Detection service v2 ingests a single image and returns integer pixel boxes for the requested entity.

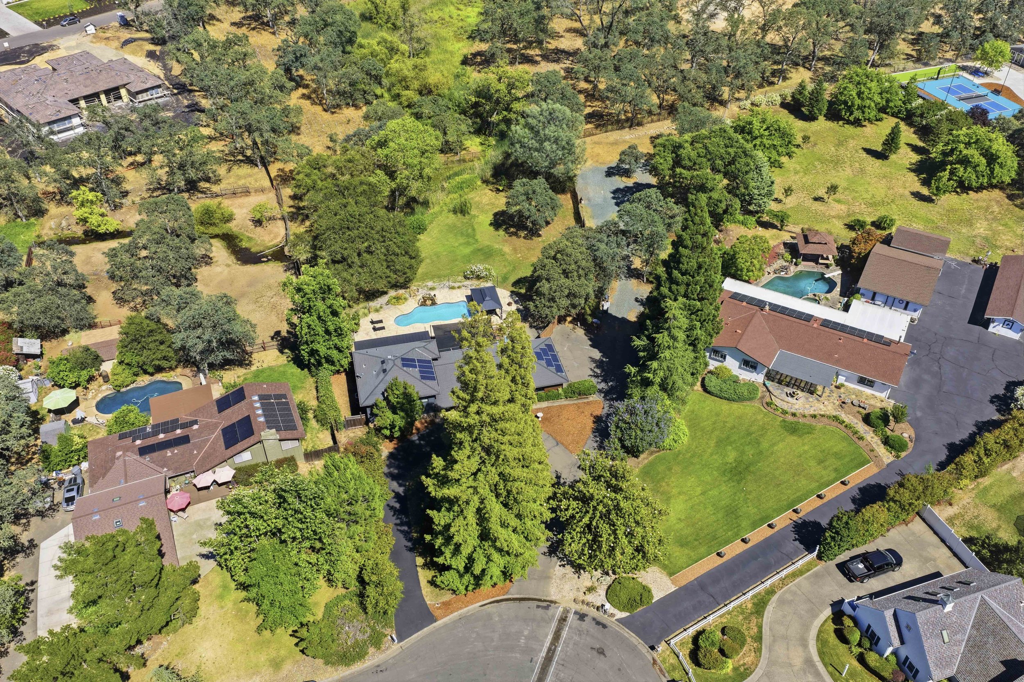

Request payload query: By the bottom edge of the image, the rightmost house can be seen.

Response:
[852,568,1024,682]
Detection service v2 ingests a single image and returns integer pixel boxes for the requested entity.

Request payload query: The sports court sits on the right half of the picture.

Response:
[919,75,1022,120]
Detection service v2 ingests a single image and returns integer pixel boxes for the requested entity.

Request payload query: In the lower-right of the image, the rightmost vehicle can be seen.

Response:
[844,548,908,584]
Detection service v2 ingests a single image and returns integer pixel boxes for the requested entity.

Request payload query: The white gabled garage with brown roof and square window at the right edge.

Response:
[980,254,1024,349]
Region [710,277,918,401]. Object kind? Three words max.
house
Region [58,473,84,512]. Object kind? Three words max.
car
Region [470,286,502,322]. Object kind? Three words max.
gazebo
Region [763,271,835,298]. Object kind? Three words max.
swimming pool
